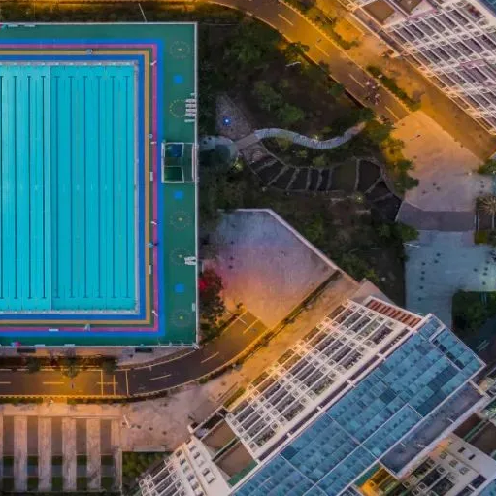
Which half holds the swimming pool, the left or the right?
left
